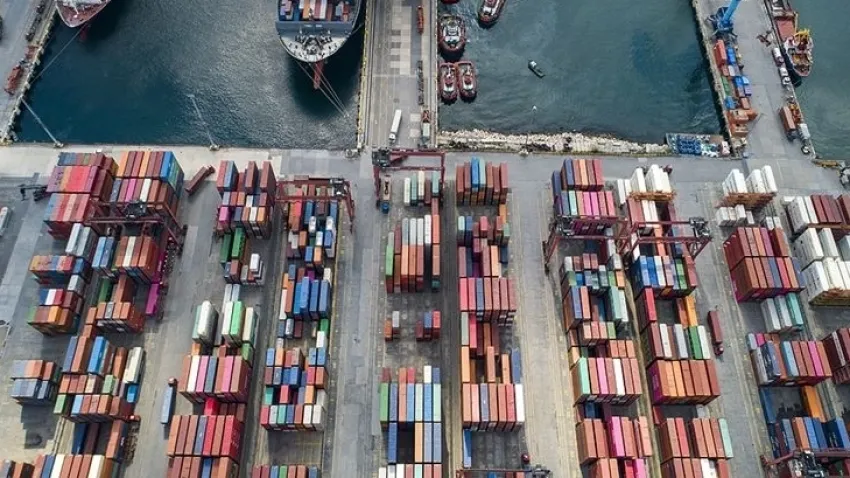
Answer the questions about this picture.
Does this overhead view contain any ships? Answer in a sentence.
Yes, the picture does show a ship.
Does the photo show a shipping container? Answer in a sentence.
Yes, the photo shows a shipping container.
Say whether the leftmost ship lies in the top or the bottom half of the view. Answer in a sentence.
The leftmost ship is in the top half of the image.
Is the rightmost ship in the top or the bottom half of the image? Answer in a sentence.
You can find the rightmost ship in the top half.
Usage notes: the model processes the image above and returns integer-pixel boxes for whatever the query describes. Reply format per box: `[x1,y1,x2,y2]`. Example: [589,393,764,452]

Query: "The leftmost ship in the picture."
[56,0,113,48]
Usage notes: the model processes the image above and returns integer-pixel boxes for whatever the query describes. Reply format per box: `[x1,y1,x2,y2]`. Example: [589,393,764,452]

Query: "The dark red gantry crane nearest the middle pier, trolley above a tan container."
[372,147,446,202]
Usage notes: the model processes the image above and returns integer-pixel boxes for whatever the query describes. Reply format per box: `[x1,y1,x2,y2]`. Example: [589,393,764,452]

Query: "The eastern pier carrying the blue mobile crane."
[691,0,815,159]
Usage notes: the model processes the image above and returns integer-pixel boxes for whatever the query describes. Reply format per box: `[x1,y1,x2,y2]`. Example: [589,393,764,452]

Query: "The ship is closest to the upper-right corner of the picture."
[769,0,823,80]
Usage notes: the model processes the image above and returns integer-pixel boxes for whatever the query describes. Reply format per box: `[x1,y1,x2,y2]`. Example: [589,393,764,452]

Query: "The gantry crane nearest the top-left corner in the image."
[83,198,185,246]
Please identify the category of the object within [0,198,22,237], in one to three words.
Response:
truck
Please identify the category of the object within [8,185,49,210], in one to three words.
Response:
work vehicle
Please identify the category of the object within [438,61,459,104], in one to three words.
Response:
boat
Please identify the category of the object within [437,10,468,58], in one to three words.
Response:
boat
